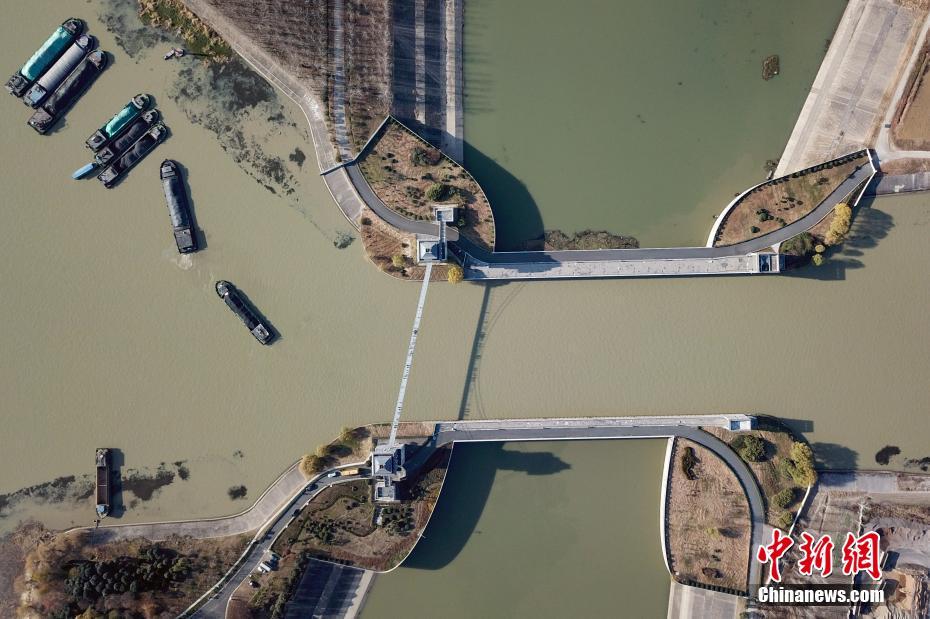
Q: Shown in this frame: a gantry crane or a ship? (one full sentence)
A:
Looking from above, you can make out a ship.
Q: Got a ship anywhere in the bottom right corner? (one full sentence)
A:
No, the scene shows no ship in the bottom right corner.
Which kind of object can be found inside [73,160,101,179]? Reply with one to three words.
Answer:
boat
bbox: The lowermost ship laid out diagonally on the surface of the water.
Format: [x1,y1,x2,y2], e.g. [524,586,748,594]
[216,280,273,347]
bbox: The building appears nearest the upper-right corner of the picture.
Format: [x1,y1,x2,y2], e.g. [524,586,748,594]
[746,254,781,273]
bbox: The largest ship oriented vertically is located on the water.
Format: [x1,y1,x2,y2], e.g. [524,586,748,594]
[161,158,196,254]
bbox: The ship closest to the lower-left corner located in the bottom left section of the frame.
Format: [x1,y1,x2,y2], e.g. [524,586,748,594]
[96,447,112,517]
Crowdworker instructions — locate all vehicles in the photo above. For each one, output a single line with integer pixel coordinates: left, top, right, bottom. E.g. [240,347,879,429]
[259,562,272,572]
[307,485,316,492]
[257,567,265,575]
[249,580,258,587]
[327,472,338,477]
[340,467,360,475]
[882,123,894,129]
[269,554,280,562]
